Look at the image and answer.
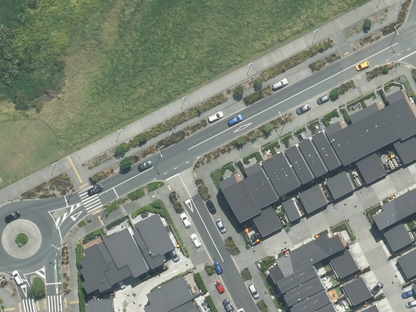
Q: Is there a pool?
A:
No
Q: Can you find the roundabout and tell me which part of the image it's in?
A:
bottom left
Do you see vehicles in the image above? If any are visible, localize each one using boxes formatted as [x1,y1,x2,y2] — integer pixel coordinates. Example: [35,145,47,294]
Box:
[228,114,243,126]
[170,250,179,264]
[371,281,382,295]
[6,211,20,222]
[248,284,258,298]
[401,290,415,298]
[272,78,288,90]
[138,160,152,170]
[205,198,217,214]
[88,184,102,194]
[296,104,311,114]
[180,212,192,228]
[316,94,330,104]
[190,233,202,247]
[214,280,225,294]
[222,298,233,312]
[212,261,223,275]
[216,219,226,233]
[354,60,370,70]
[208,111,223,122]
